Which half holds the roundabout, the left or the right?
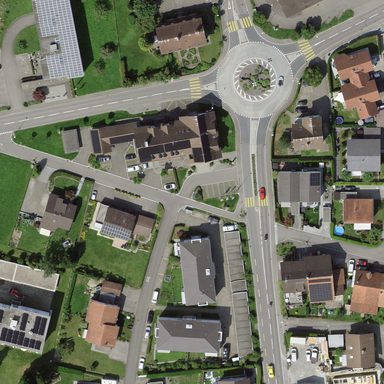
right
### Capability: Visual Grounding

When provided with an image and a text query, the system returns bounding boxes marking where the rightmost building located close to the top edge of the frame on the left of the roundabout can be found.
[154,16,206,54]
